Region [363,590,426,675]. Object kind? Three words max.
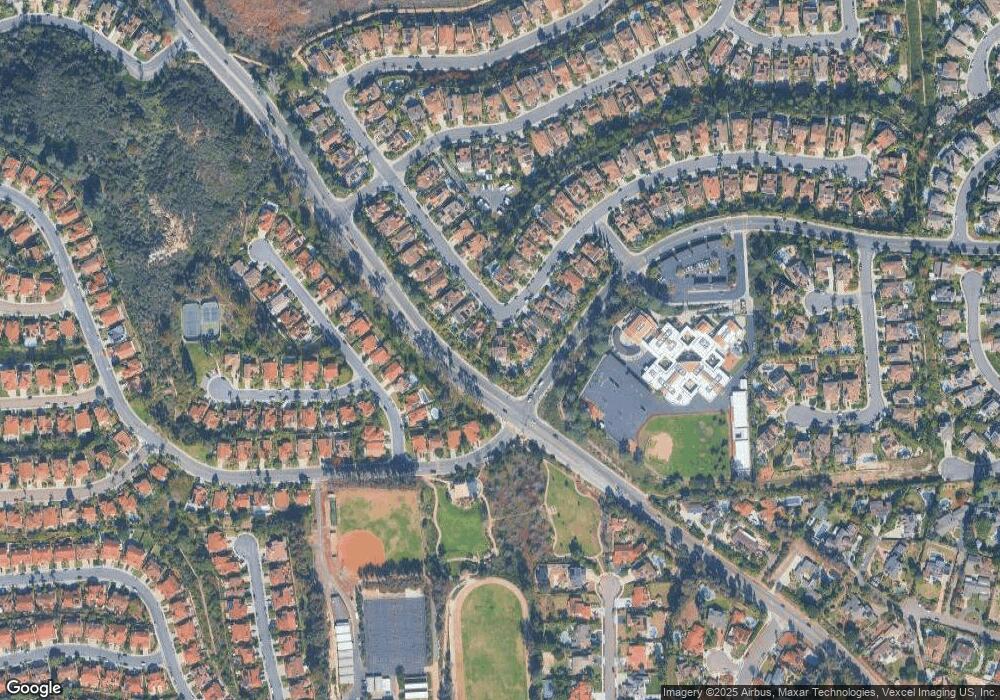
sports court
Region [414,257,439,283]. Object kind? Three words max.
house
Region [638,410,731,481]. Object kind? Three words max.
sports field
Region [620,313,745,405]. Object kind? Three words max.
building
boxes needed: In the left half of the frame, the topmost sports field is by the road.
[322,487,421,592]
